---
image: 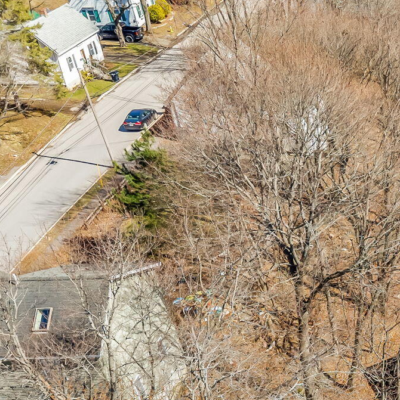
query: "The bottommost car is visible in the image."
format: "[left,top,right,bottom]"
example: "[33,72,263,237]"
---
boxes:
[124,107,162,130]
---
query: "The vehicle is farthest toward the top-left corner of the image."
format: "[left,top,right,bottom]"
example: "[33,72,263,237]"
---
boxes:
[101,24,147,41]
